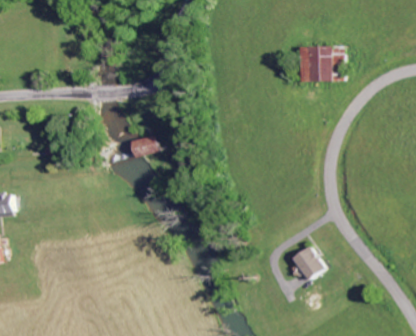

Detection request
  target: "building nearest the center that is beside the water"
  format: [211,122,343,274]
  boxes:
[132,136,163,158]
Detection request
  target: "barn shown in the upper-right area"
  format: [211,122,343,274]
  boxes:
[302,46,349,84]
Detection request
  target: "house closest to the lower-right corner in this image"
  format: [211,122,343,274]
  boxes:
[293,246,329,280]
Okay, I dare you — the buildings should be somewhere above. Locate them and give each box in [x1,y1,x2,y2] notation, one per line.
[132,136,163,158]
[302,46,349,84]
[0,192,20,218]
[293,246,329,280]
[0,238,12,266]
